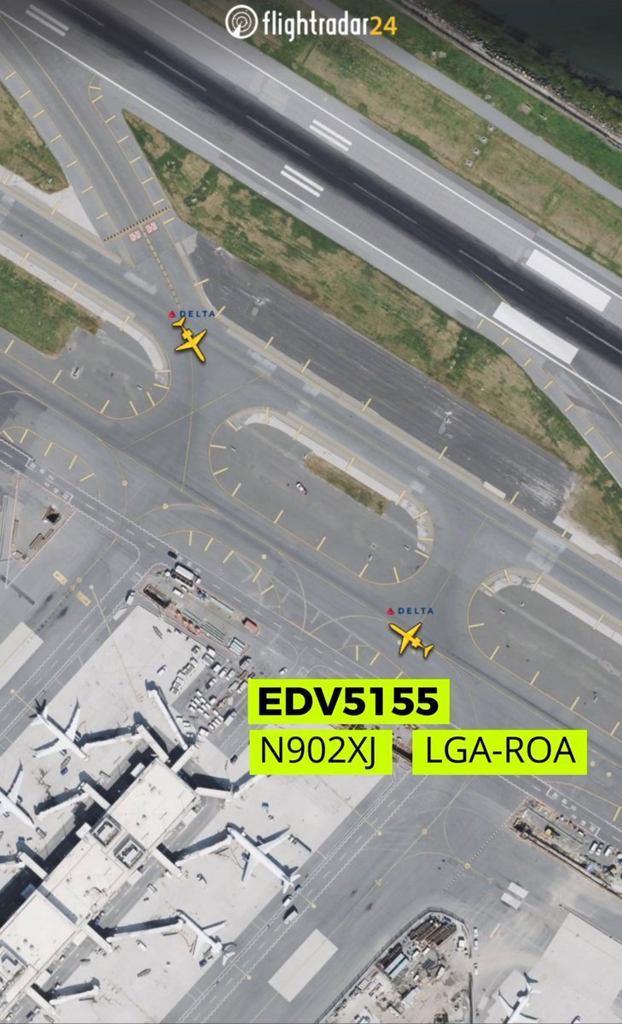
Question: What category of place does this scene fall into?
airport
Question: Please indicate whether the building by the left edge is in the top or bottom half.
bottom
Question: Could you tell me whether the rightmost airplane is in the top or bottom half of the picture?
bottom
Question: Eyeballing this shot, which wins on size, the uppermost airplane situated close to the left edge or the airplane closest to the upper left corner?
the uppermost airplane situated close to the left edge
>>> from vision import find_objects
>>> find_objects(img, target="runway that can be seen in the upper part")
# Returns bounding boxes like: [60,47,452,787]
[0,0,622,403]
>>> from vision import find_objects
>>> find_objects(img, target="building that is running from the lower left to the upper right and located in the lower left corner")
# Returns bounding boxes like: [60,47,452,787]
[0,757,201,1015]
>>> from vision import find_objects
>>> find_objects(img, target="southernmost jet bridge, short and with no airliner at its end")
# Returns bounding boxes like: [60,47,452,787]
[27,985,103,1015]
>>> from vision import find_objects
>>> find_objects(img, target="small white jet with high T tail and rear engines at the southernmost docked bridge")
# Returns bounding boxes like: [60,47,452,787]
[180,915,235,966]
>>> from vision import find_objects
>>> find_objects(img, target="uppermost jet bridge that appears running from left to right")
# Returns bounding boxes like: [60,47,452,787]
[81,726,170,762]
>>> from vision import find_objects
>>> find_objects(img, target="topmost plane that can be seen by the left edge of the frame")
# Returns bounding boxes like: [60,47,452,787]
[31,704,87,759]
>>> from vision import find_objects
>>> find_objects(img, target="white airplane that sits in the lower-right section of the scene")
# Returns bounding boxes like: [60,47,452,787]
[494,981,538,1024]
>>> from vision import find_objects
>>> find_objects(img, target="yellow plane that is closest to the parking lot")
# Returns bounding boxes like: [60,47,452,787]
[390,622,434,657]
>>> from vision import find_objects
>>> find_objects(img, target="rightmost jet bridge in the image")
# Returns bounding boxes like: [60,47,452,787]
[195,771,270,803]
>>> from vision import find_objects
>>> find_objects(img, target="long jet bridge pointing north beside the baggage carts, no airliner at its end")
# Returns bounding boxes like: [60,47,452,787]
[148,686,198,772]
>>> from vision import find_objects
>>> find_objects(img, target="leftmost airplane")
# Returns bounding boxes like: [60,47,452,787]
[0,772,34,826]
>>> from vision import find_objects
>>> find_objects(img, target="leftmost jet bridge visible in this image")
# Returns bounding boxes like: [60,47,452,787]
[0,852,46,878]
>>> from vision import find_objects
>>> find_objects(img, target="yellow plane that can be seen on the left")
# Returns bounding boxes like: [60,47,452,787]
[172,317,207,362]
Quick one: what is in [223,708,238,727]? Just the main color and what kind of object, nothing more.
white vehicle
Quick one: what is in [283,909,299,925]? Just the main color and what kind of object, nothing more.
white vehicle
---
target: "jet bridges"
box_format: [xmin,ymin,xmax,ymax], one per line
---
[148,686,198,772]
[83,918,183,953]
[34,783,111,821]
[195,771,270,803]
[27,985,103,1015]
[0,852,46,878]
[81,726,170,762]
[153,834,236,876]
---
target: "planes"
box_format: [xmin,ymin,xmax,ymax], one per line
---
[31,704,87,759]
[494,981,538,1024]
[390,622,434,657]
[228,828,301,894]
[0,772,34,826]
[172,317,207,362]
[180,915,235,966]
